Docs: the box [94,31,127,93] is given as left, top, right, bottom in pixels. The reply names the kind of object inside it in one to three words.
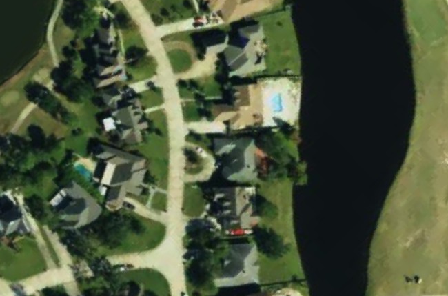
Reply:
house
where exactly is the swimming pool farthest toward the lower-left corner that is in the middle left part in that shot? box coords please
[73,164,93,181]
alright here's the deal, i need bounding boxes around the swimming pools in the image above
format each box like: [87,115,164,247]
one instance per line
[271,93,283,113]
[73,164,93,181]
